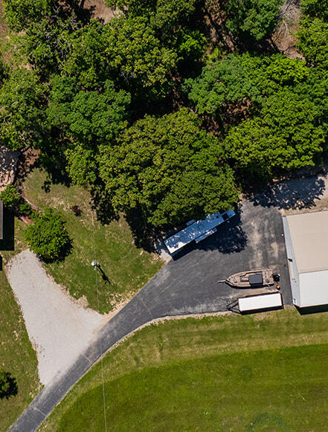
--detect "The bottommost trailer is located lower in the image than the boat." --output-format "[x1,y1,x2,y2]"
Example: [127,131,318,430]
[223,291,284,312]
